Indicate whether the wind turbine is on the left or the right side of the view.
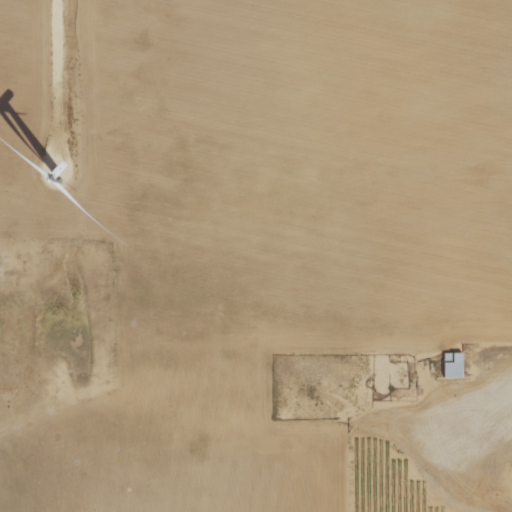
left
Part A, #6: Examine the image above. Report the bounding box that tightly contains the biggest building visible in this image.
[445,352,465,378]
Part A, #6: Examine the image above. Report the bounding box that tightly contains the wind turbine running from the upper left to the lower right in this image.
[0,134,123,245]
